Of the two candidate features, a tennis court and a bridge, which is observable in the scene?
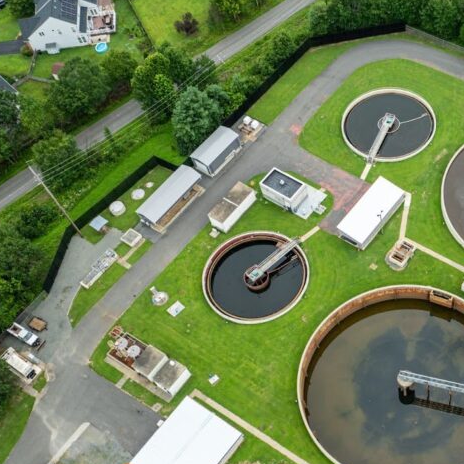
bridge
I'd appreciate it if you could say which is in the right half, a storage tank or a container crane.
storage tank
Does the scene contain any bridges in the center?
Yes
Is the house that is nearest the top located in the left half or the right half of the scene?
left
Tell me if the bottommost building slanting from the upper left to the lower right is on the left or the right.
left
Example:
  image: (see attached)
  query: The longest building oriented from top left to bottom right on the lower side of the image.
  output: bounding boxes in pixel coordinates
[107,330,190,402]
